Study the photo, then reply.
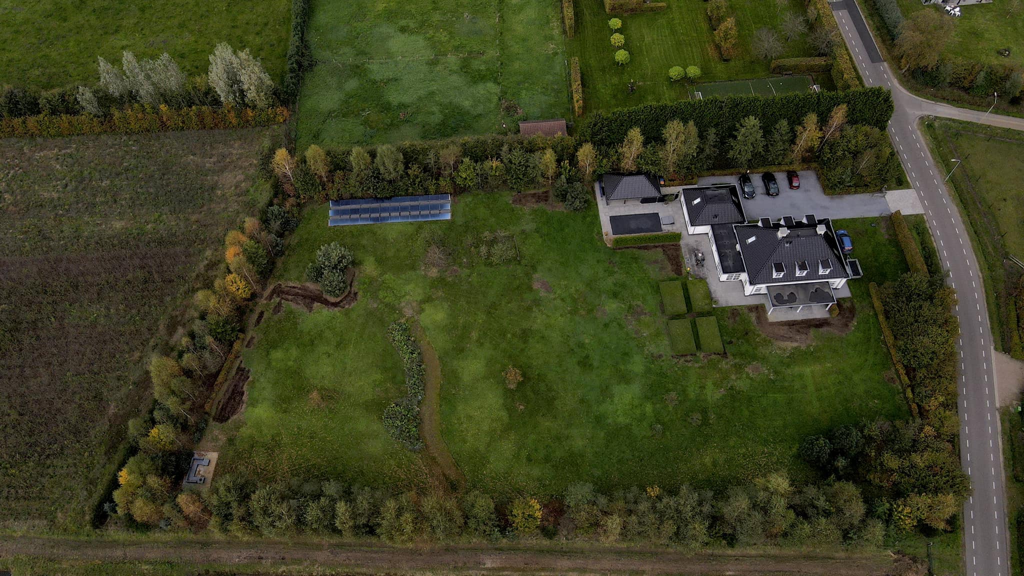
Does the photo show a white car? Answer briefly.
No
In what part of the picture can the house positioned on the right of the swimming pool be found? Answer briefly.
right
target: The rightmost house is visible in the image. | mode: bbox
[681,183,852,315]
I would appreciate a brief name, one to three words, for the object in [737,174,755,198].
car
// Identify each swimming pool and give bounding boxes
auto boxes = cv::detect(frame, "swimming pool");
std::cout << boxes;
[608,211,663,236]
